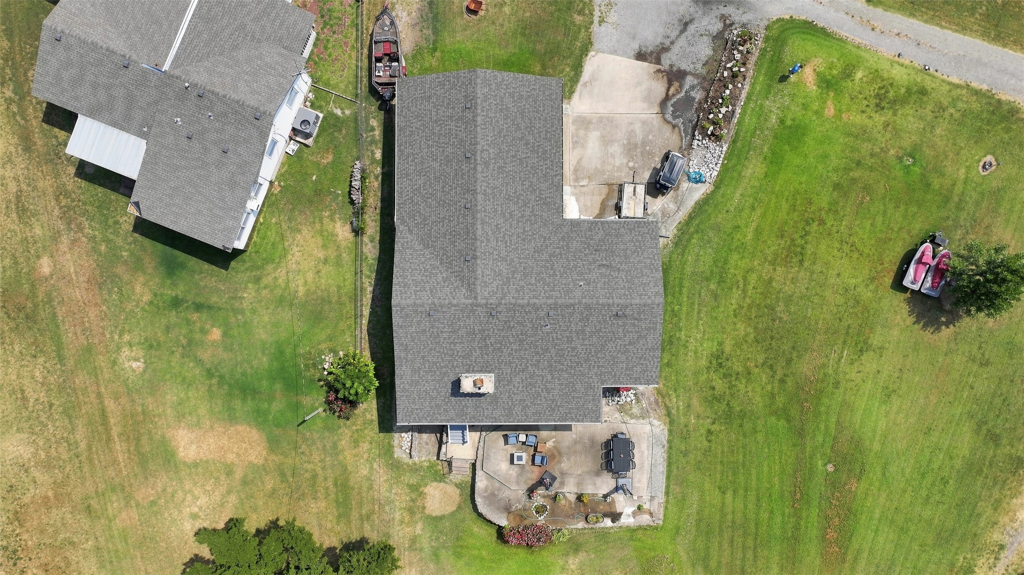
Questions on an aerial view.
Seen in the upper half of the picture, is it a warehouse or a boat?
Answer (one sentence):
There is a boat in the upper half of the picture.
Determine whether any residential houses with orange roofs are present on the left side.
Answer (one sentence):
No, there's no residential house with an orange roof to be seen on the left side.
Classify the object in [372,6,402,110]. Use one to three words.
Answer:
boat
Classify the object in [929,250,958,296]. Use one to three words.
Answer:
vessel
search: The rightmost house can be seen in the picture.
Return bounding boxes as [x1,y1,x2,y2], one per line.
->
[391,69,665,426]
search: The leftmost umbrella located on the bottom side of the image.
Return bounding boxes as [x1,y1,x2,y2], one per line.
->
[540,470,558,491]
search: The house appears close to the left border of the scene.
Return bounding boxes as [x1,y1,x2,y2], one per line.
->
[27,0,329,254]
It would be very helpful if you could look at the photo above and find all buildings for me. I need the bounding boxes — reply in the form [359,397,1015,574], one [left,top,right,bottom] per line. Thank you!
[391,69,665,426]
[27,0,329,254]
